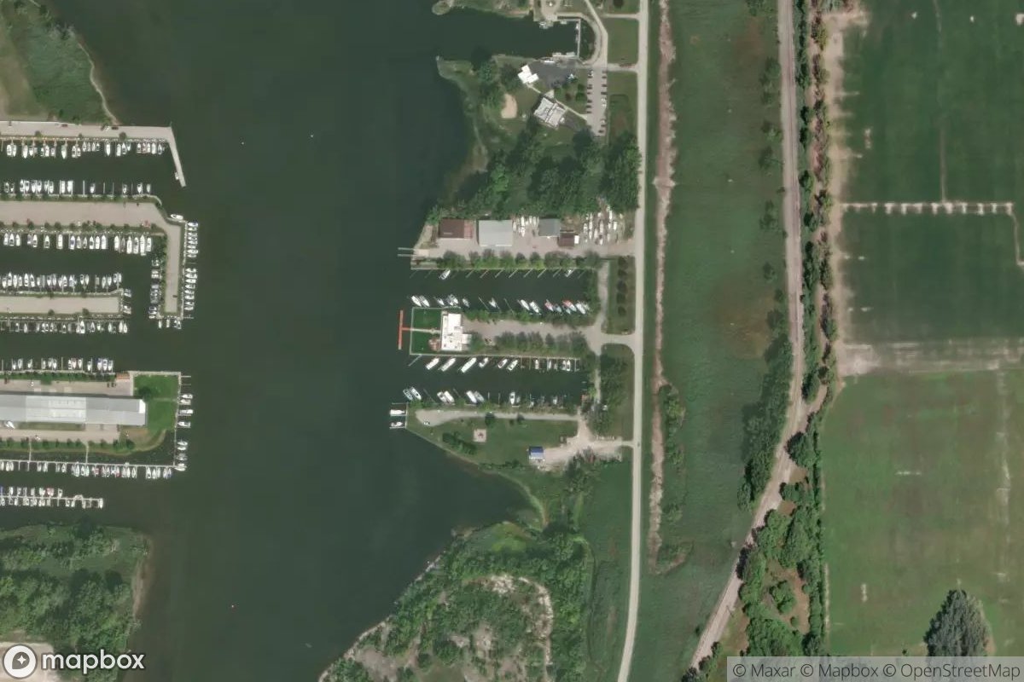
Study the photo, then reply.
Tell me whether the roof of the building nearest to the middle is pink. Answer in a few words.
No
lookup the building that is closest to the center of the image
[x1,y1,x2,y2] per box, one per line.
[441,313,471,351]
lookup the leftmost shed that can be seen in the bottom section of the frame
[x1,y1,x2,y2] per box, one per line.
[0,394,147,429]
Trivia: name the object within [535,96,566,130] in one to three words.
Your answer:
building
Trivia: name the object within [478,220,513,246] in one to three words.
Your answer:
building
